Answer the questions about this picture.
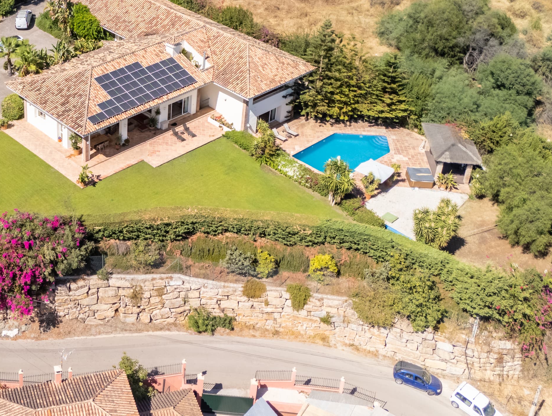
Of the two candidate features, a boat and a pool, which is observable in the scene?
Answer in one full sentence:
I can see a pool in this picture.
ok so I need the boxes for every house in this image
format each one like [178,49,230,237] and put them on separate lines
[0,362,141,416]
[3,0,317,161]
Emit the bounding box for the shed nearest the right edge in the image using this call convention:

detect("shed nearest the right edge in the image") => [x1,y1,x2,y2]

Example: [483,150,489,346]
[416,120,483,189]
